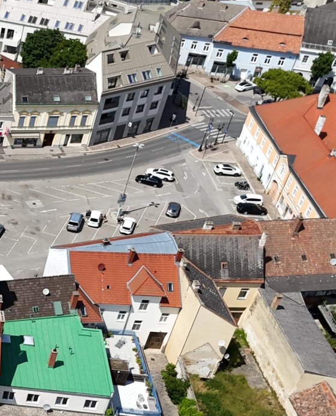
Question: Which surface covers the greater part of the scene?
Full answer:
For the most part, this view shows buildings.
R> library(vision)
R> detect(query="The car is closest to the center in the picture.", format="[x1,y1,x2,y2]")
[167,206,182,219]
